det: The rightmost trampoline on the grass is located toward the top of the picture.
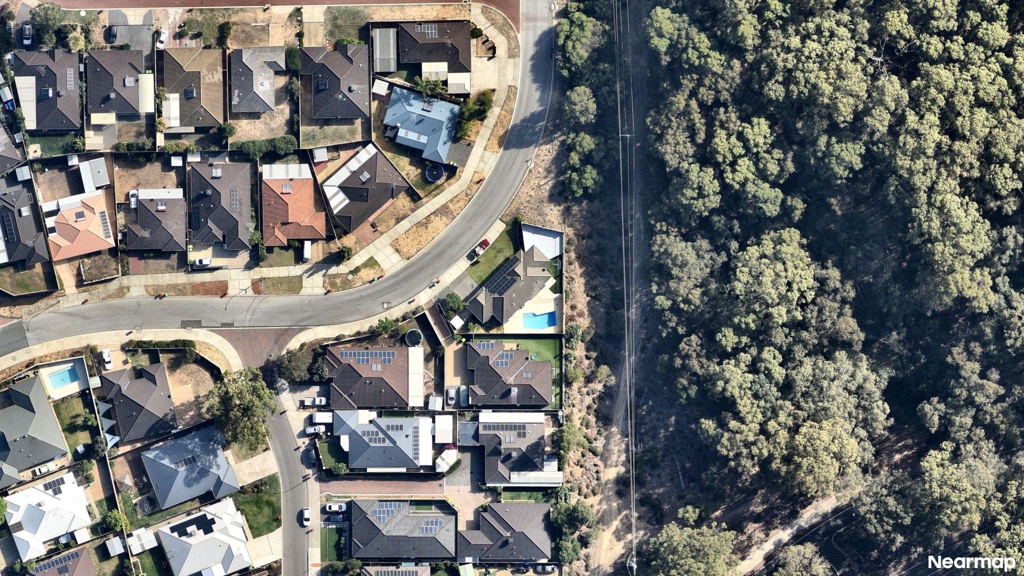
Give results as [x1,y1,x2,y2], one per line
[426,164,444,182]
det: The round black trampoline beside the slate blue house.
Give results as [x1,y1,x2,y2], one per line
[137,496,155,514]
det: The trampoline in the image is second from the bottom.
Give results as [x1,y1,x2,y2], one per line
[405,330,422,347]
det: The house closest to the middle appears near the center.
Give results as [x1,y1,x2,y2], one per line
[464,245,555,325]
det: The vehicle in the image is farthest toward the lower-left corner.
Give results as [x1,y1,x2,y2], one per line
[34,462,56,476]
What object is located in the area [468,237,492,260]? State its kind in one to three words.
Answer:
truck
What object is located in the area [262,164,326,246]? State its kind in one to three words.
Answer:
house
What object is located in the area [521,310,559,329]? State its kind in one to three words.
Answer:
swimming pool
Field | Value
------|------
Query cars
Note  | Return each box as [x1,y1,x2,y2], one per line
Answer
[459,385,469,406]
[101,348,112,370]
[156,29,168,48]
[447,387,456,405]
[304,396,325,406]
[326,503,347,511]
[23,25,32,45]
[303,240,311,262]
[128,189,138,209]
[329,514,343,522]
[307,446,317,467]
[305,424,325,434]
[34,462,56,476]
[194,258,212,266]
[108,25,118,43]
[302,507,310,527]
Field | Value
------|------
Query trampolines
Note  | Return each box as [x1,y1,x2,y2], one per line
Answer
[426,164,444,182]
[137,496,155,514]
[405,330,422,347]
